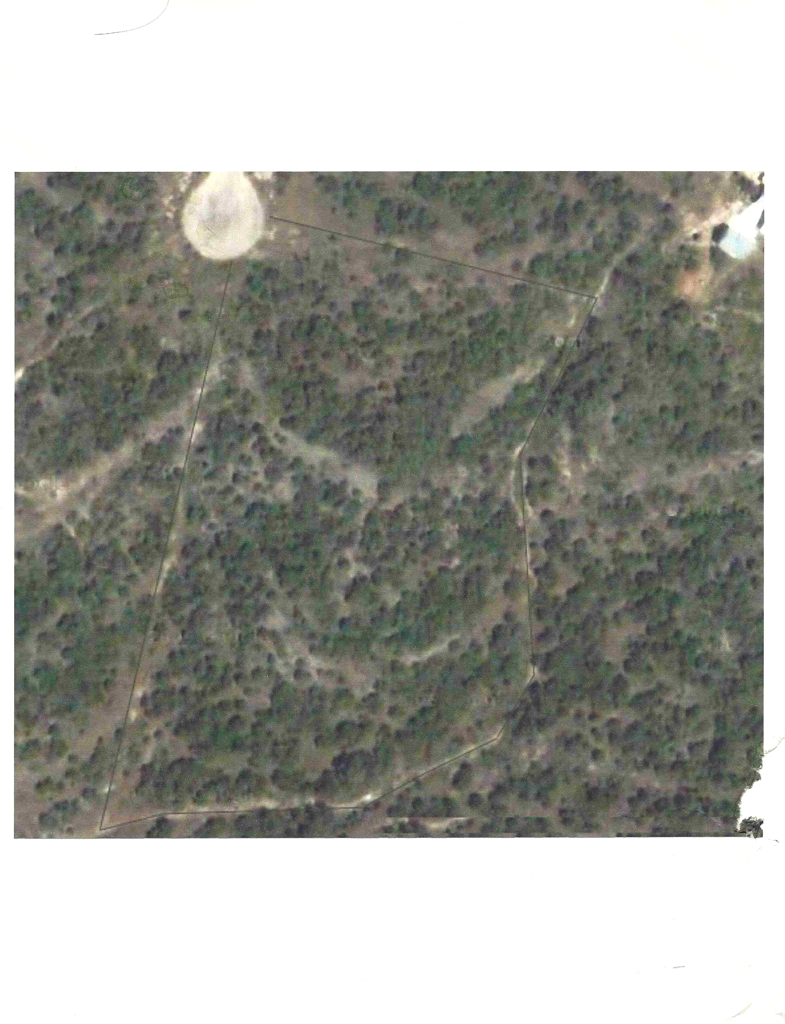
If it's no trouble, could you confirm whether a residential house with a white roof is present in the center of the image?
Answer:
No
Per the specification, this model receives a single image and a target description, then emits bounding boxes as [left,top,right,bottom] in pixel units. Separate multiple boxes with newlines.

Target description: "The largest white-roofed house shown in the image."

[721,196,765,259]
